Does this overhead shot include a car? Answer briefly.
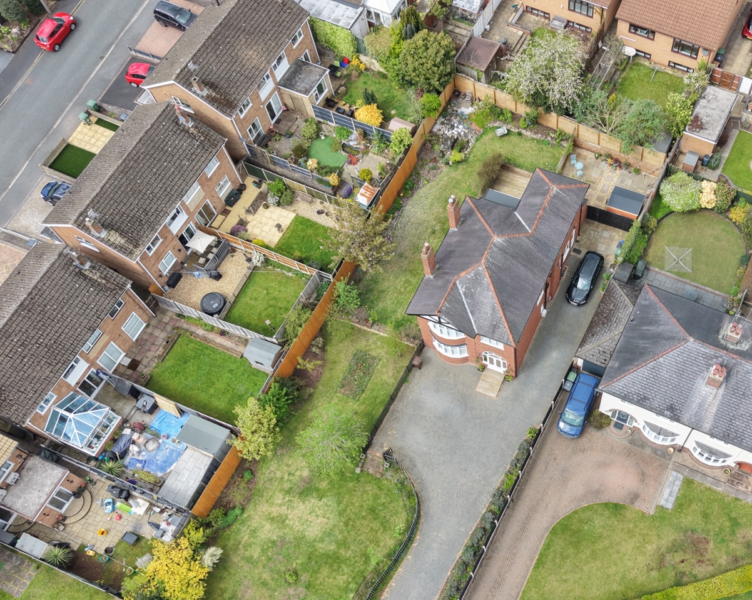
Yes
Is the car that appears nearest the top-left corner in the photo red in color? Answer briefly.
Yes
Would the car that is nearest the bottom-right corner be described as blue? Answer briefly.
Yes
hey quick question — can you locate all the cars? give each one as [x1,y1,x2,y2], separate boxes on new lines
[565,250,607,308]
[35,15,79,50]
[33,179,75,209]
[743,8,752,40]
[147,0,197,30]
[560,370,599,435]
[118,61,154,89]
